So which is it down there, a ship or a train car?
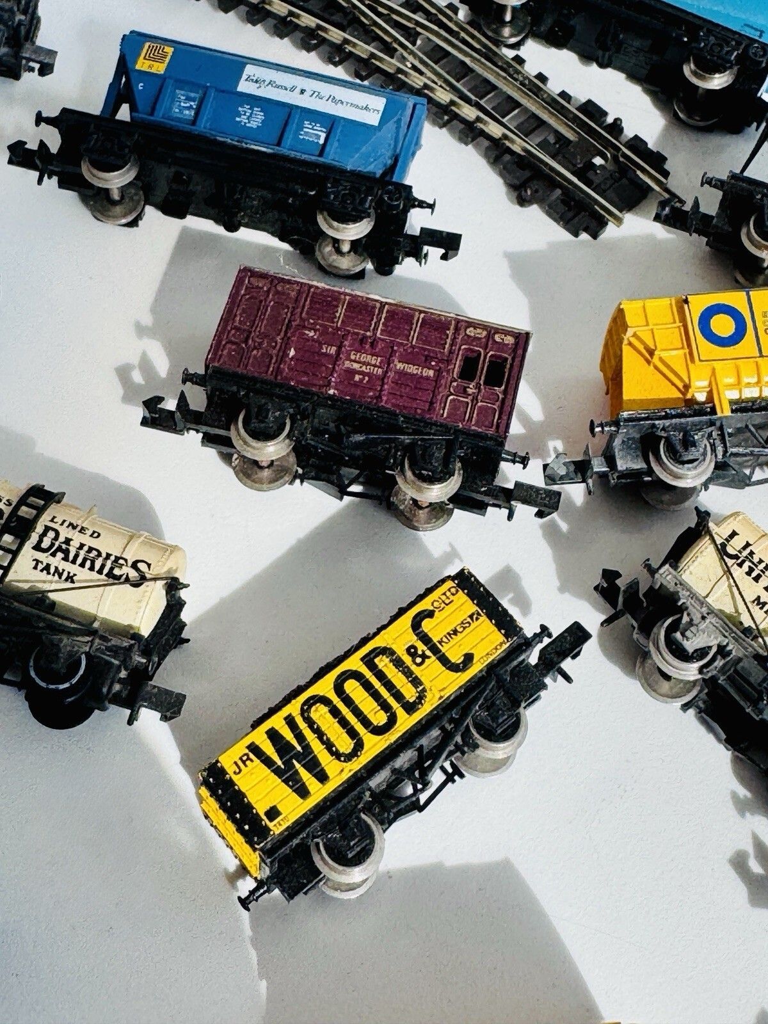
train car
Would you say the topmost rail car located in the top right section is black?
Yes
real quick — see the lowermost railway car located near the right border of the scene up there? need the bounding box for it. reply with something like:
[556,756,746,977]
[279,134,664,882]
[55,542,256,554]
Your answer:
[588,510,768,780]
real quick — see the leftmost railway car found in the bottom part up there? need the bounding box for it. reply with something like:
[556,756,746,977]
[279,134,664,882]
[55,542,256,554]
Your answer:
[0,494,196,738]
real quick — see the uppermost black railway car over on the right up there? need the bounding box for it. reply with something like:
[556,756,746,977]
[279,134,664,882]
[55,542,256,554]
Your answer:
[431,0,768,138]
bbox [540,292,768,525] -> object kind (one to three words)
rail car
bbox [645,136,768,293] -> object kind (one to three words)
rail car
